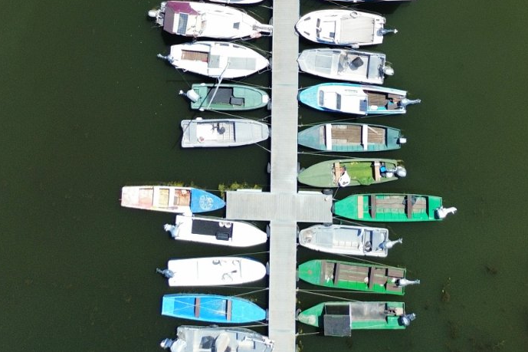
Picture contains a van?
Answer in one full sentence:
No, the frame has no van in it.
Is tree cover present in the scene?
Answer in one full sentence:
No, tree cover can't be seen anywhere here.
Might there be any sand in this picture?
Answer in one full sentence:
No, sand can't be seen anywhere here.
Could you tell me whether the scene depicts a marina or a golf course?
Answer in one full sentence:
The area seen from above is a marina.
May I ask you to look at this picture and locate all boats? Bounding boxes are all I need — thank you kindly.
[159,322,274,352]
[296,0,396,48]
[298,290,421,335]
[162,289,268,324]
[144,1,273,43]
[297,45,401,85]
[298,153,417,195]
[299,218,403,271]
[122,184,226,216]
[182,116,271,151]
[159,251,268,289]
[160,40,271,107]
[164,213,269,249]
[298,260,418,293]
[328,192,457,221]
[298,81,419,126]
[298,123,413,154]
[174,83,271,125]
